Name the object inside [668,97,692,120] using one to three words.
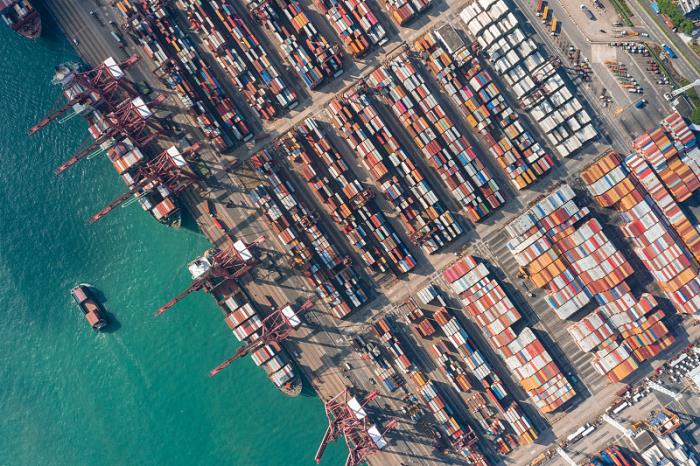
building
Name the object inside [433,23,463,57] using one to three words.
building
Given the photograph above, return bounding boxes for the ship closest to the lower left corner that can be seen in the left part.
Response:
[71,287,106,331]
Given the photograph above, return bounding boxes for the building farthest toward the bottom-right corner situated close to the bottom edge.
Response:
[629,428,654,450]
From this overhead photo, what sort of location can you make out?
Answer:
port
